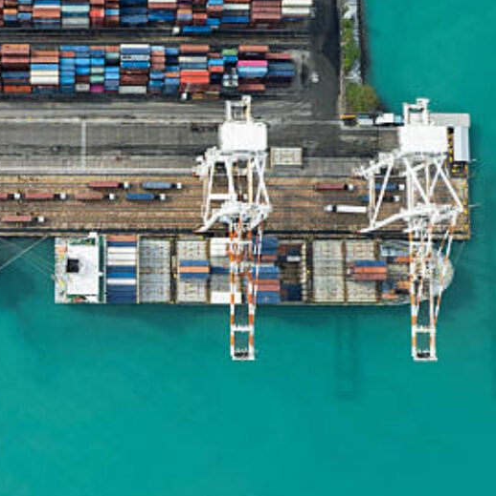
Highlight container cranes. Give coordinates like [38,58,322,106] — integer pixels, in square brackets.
[191,98,273,361]
[349,99,469,362]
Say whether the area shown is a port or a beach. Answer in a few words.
port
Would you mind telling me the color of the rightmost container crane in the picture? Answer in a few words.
white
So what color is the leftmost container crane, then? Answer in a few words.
white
